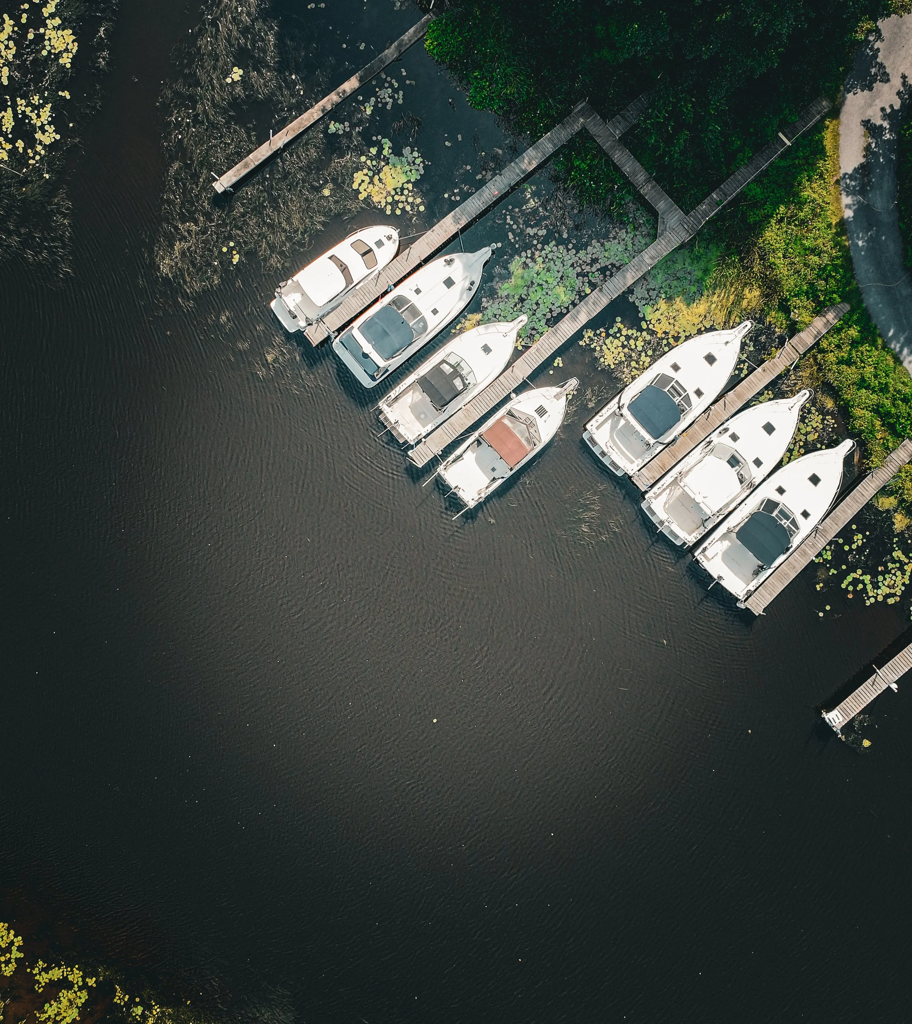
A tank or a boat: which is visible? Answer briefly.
boat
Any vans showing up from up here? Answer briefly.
No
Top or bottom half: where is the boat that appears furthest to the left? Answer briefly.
top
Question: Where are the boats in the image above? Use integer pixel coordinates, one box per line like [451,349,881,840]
[331,243,498,390]
[641,388,815,548]
[693,438,857,602]
[423,377,580,519]
[270,229,400,332]
[371,313,528,449]
[582,319,756,476]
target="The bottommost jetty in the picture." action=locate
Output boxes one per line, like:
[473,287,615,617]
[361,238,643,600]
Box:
[819,641,912,739]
